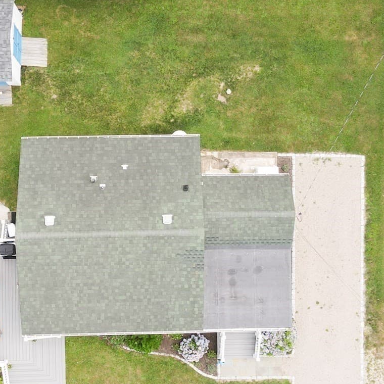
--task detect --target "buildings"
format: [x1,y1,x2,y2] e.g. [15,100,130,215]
[0,0,21,86]
[15,132,302,339]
